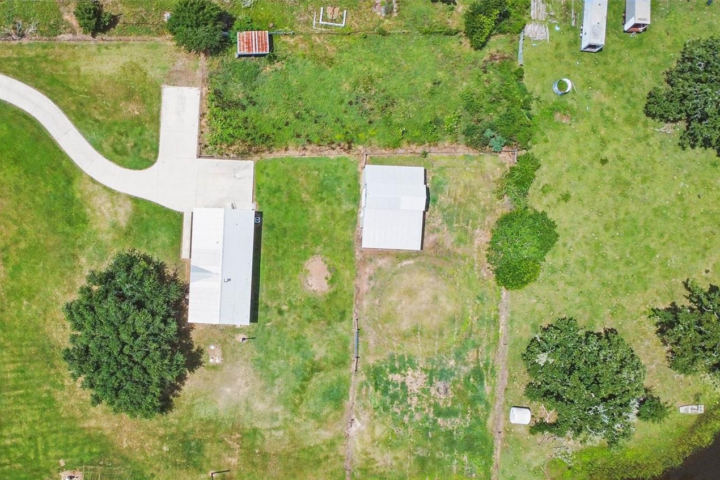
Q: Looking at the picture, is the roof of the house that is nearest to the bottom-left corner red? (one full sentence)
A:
No, the roof of the house that is nearest to the bottom-left corner is actually white.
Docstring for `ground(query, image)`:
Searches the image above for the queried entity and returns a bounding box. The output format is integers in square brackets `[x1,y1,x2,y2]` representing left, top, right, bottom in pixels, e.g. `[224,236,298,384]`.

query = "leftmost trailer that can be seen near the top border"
[578,0,608,52]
